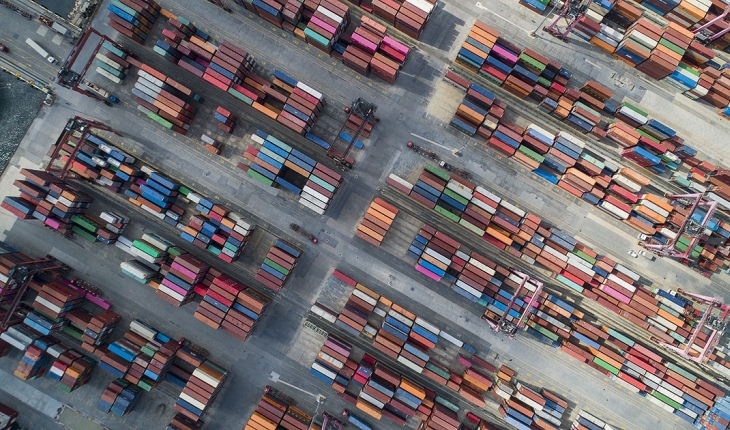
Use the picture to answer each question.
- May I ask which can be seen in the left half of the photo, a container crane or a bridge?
container crane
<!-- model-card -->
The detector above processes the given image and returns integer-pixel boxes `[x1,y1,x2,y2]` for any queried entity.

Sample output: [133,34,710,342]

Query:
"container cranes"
[53,24,135,103]
[478,266,542,339]
[0,257,71,328]
[634,193,716,257]
[327,94,379,168]
[543,0,597,42]
[692,14,730,49]
[42,113,122,182]
[649,289,730,364]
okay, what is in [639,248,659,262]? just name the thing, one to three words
vehicle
